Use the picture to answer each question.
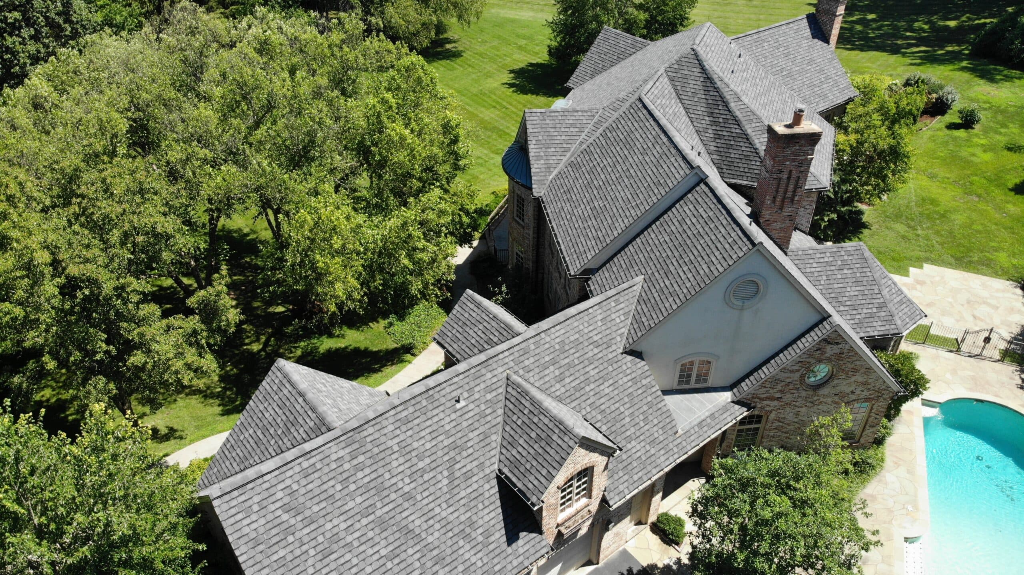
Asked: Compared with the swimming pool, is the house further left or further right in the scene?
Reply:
on its left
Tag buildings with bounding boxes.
[191,0,928,575]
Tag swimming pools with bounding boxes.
[893,392,1024,575]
